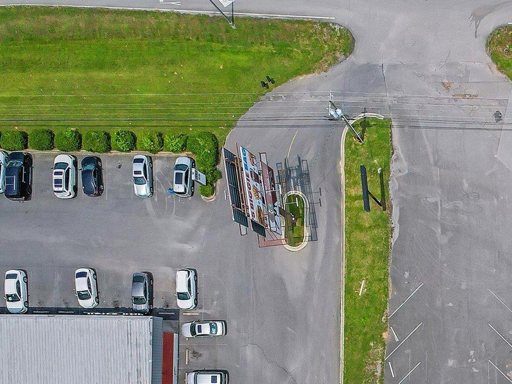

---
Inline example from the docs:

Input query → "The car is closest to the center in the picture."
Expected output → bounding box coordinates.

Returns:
[171,156,195,197]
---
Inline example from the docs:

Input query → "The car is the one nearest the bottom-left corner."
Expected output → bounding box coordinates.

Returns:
[4,269,29,313]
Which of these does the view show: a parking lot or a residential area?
parking lot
